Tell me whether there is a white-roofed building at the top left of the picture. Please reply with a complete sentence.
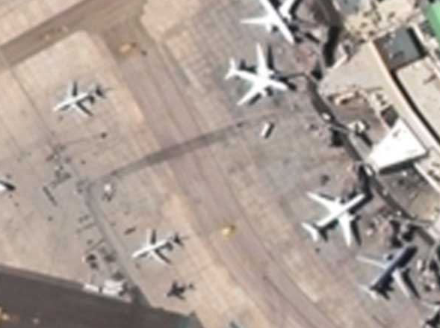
No, looking at the top left of the picture, there is no white-roofed building.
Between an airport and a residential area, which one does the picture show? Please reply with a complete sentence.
It's an airport.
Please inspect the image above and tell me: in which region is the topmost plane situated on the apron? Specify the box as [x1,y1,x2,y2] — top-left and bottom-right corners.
[239,0,292,43]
